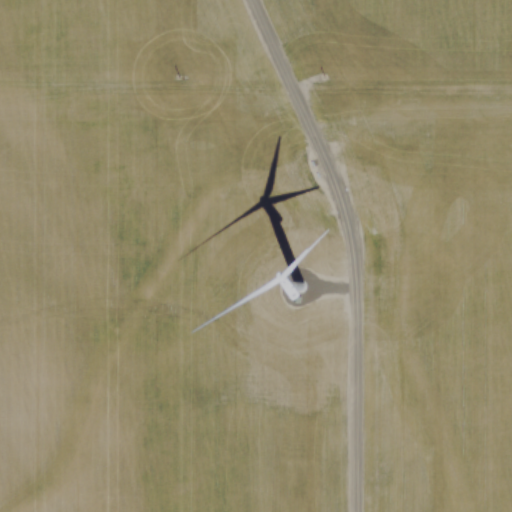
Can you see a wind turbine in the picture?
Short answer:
Yes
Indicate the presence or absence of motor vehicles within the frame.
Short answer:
No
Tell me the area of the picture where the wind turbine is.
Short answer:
center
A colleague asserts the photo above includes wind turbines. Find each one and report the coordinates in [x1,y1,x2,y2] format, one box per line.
[194,232,329,332]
